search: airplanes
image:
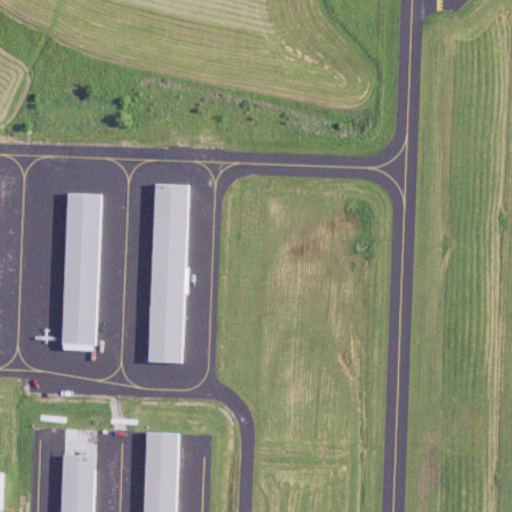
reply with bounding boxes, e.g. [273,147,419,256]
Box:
[34,328,56,344]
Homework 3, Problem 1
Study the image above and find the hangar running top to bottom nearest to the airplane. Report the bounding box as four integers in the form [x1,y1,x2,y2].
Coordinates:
[62,194,104,353]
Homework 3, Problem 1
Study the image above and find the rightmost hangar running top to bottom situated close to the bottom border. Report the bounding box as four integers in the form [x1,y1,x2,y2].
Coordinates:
[144,432,181,512]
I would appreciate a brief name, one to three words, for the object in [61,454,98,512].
hangar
